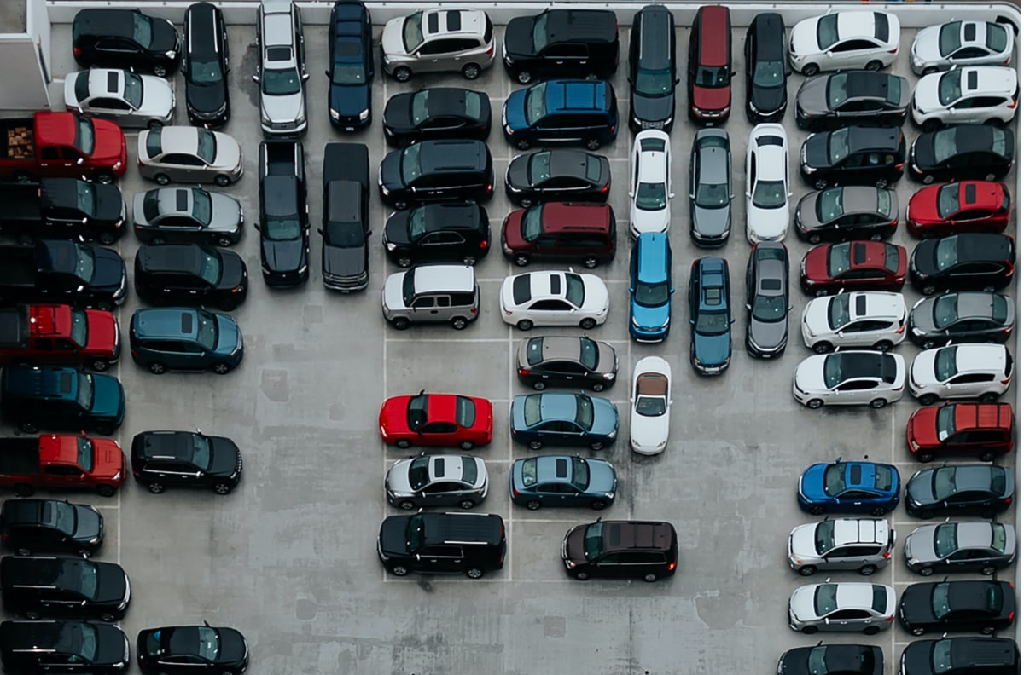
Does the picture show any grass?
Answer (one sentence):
No, the scene doesn't show any grass.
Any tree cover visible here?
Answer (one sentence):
No, the picture contains no tree cover.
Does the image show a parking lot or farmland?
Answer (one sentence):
What you see here is a parking lot.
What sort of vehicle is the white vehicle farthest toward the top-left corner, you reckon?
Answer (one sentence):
The white vehicle farthest toward the top-left corner can be classified as an automobile.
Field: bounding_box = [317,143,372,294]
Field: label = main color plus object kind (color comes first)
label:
black truck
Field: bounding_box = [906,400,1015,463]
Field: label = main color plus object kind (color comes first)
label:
red car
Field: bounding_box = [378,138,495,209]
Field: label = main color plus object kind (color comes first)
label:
black car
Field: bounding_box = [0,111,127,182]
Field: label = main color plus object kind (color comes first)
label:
red truck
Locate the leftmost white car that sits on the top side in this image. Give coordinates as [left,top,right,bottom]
[64,66,175,128]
